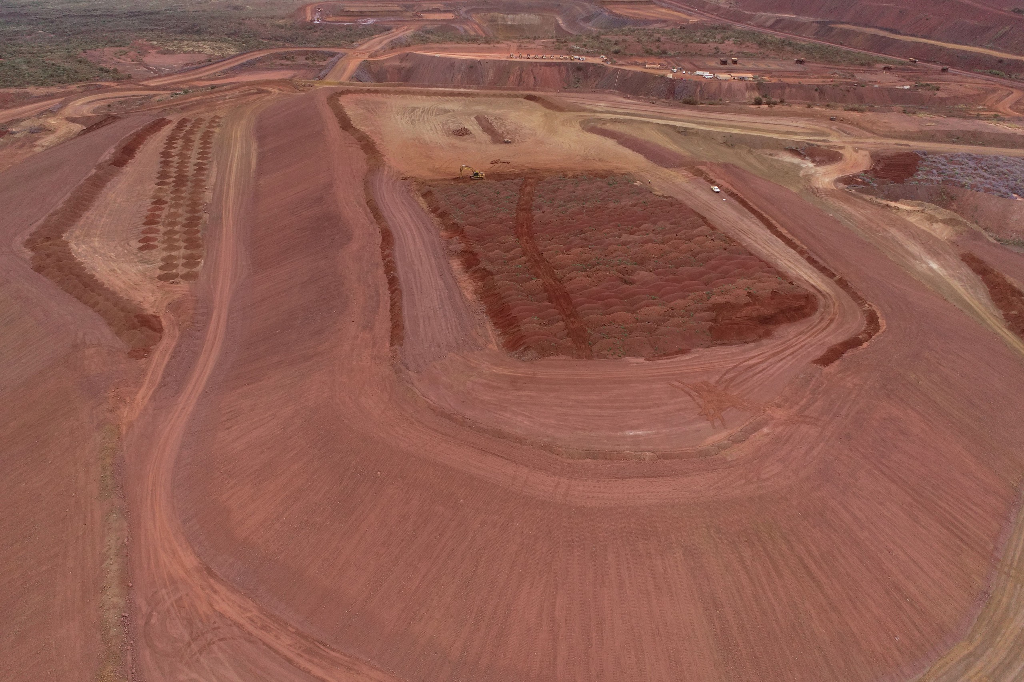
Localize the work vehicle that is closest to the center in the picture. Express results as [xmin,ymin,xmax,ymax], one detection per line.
[459,163,485,180]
